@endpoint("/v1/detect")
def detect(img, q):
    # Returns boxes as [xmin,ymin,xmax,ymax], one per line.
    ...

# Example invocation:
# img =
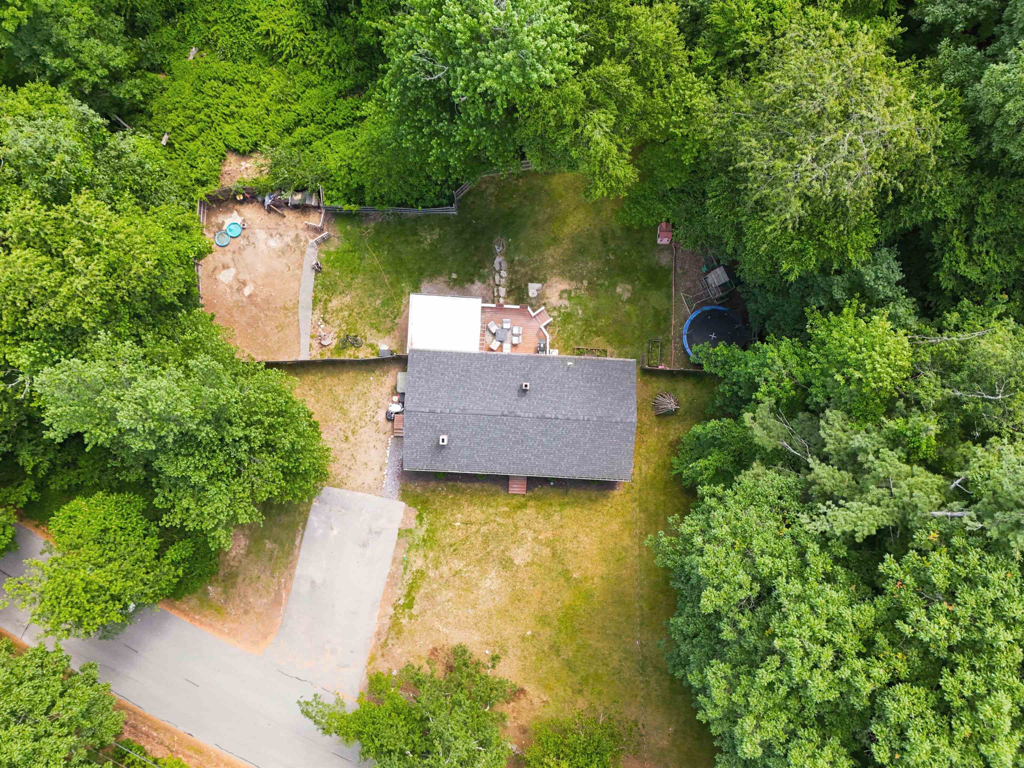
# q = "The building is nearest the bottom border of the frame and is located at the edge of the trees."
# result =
[403,347,636,482]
